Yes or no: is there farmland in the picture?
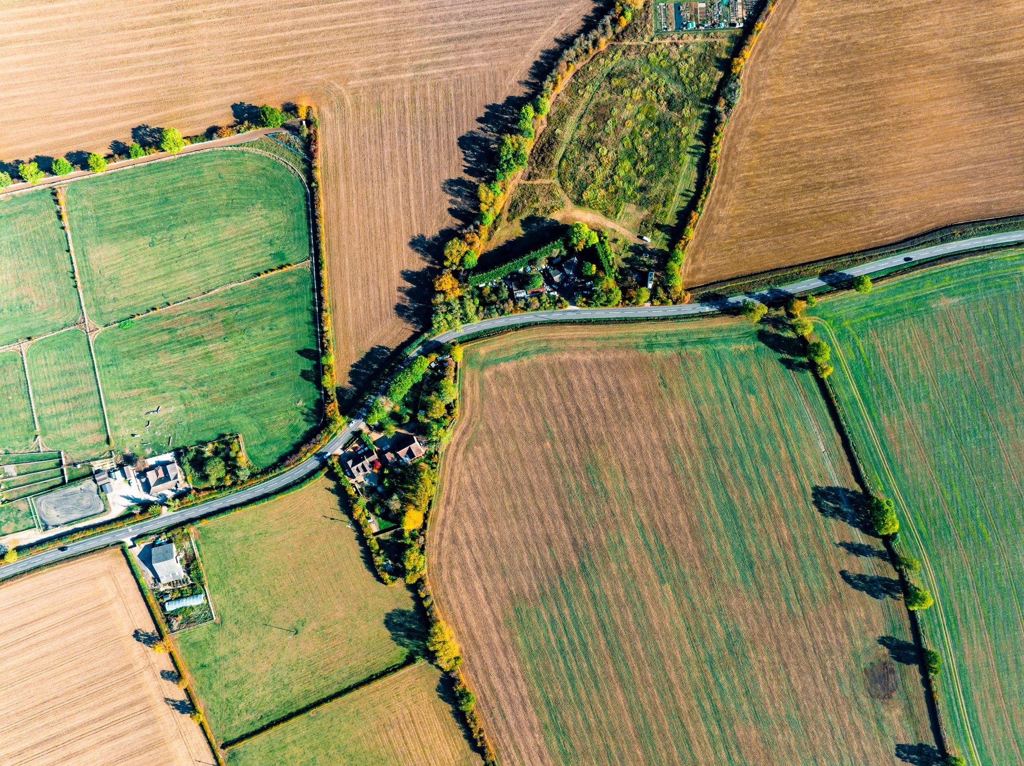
Yes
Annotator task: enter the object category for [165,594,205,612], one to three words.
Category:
greenhouse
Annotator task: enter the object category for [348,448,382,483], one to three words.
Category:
house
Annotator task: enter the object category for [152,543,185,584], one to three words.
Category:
barn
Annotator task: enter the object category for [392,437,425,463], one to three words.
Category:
house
